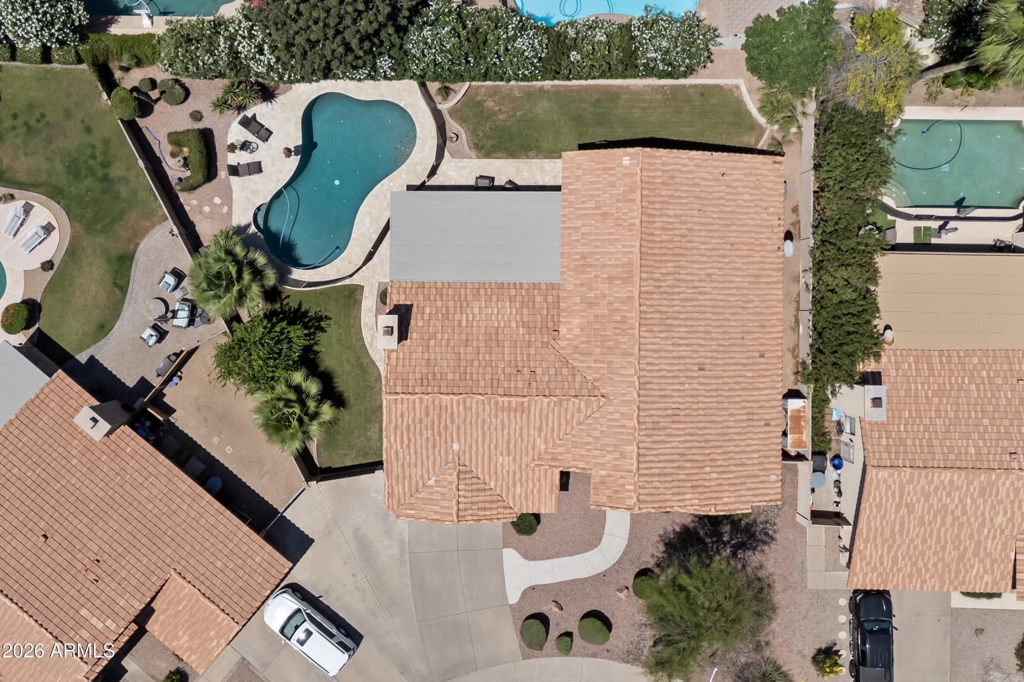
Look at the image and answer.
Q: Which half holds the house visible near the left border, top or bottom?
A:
bottom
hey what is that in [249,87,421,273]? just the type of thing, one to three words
swimming pool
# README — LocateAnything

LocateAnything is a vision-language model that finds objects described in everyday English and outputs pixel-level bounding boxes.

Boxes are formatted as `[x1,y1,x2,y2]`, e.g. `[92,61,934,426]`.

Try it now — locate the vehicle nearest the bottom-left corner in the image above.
[264,588,361,682]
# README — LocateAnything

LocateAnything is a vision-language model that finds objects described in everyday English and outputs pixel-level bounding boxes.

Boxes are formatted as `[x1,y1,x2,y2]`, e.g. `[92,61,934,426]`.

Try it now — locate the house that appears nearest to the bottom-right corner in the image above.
[836,251,1024,609]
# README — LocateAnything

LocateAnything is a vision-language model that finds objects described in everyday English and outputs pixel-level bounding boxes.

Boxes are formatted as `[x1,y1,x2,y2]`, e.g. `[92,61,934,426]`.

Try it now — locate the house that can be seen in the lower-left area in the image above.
[0,333,292,682]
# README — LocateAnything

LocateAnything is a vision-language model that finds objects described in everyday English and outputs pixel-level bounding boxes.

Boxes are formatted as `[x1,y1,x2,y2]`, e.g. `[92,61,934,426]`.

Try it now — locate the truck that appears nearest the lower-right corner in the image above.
[845,589,902,682]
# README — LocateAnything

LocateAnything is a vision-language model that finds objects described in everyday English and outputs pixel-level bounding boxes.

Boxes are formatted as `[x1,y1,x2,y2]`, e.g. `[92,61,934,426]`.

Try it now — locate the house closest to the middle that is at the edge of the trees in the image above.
[378,147,786,523]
